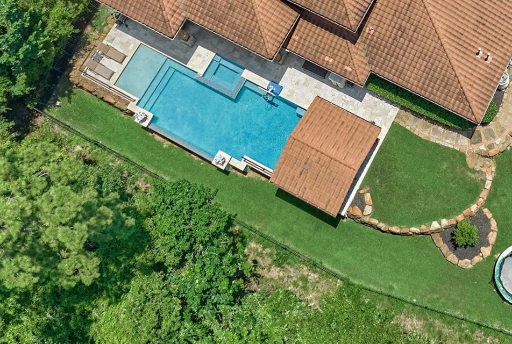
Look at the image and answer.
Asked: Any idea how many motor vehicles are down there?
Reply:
none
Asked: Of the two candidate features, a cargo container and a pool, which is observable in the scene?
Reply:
pool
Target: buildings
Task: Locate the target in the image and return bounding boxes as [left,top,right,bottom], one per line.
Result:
[93,0,512,126]
[267,95,386,221]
